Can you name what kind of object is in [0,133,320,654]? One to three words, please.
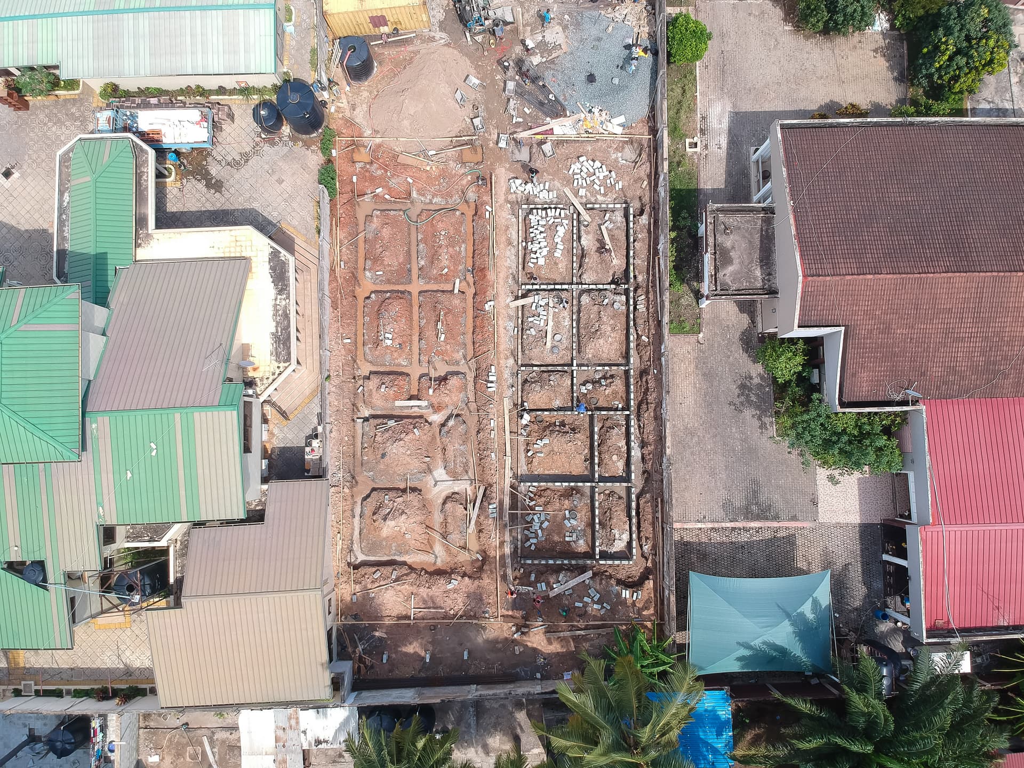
building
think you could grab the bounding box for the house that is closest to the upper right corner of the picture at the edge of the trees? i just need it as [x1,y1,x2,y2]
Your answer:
[693,117,1024,410]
